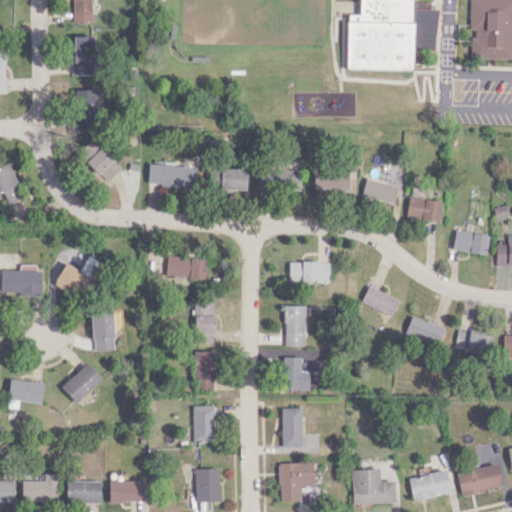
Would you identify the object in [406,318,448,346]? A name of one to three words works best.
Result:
house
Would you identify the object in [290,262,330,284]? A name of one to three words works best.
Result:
house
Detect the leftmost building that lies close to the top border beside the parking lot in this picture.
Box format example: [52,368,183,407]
[348,0,417,71]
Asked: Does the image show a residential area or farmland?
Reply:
residential area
